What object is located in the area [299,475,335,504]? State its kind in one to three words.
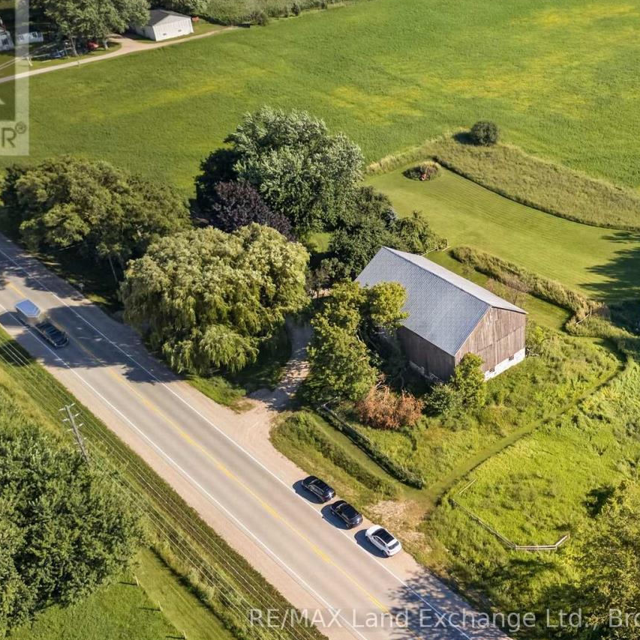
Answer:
car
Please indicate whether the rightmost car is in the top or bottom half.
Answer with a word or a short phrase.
bottom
